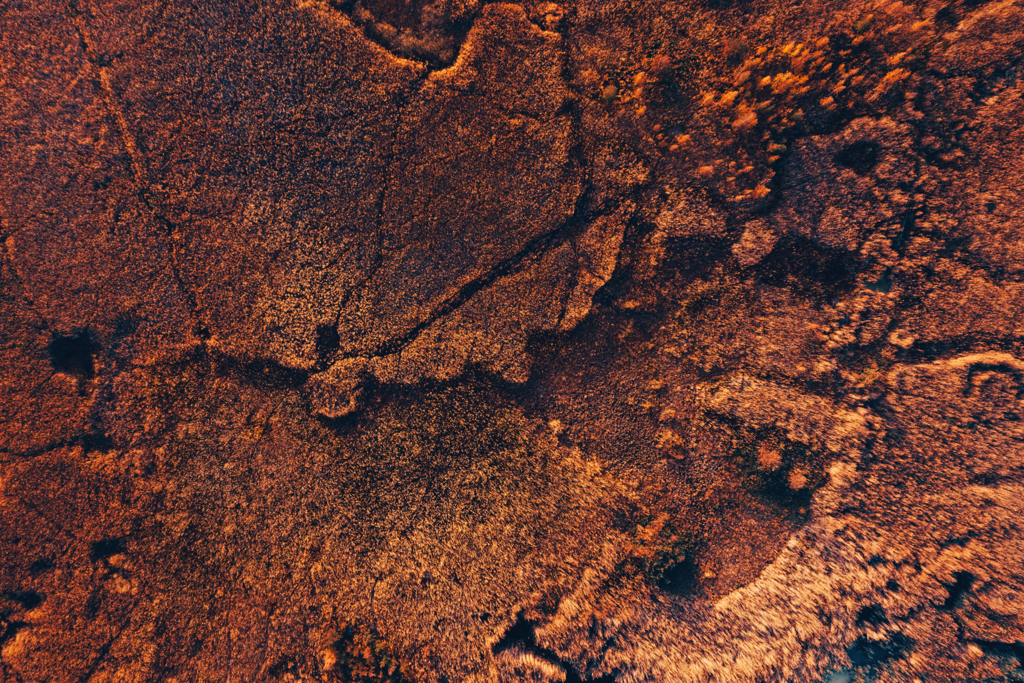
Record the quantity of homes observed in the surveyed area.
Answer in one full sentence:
The photo contains no homes.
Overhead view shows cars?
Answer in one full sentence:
No, no car is visible in the view.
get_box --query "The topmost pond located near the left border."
[46,327,100,375]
